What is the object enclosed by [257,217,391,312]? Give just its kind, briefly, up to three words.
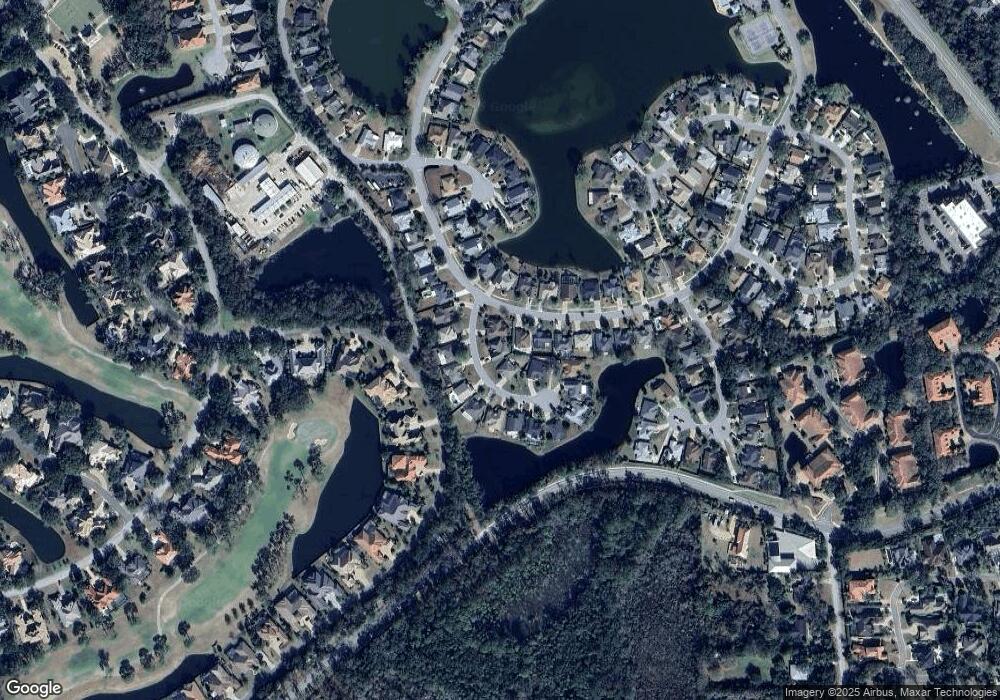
pond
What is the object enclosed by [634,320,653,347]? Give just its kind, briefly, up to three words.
house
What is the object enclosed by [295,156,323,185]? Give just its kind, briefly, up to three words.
building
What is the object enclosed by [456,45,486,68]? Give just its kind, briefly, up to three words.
house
